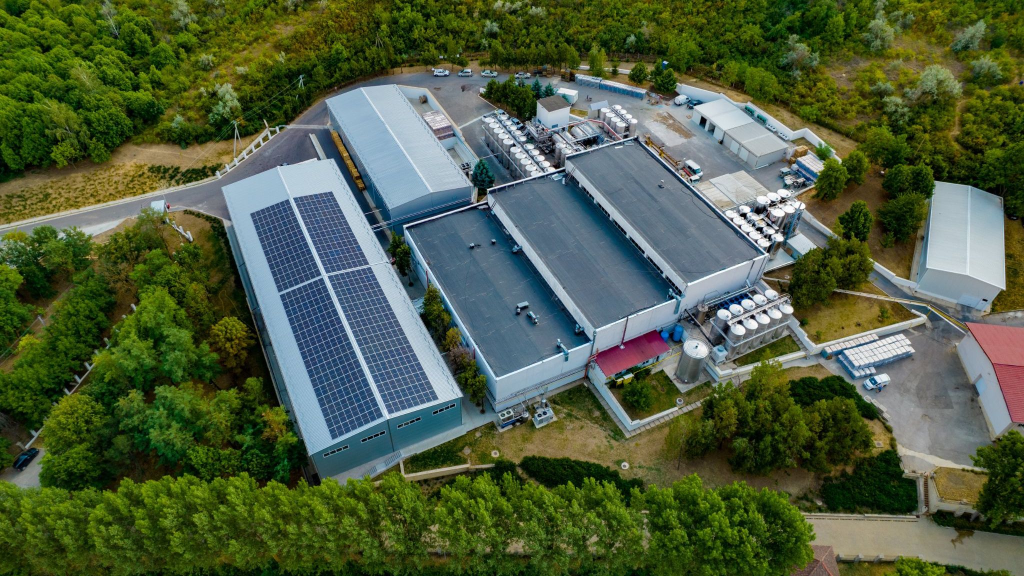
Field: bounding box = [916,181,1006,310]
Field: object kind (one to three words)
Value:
building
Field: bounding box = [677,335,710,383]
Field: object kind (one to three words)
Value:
storage tank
